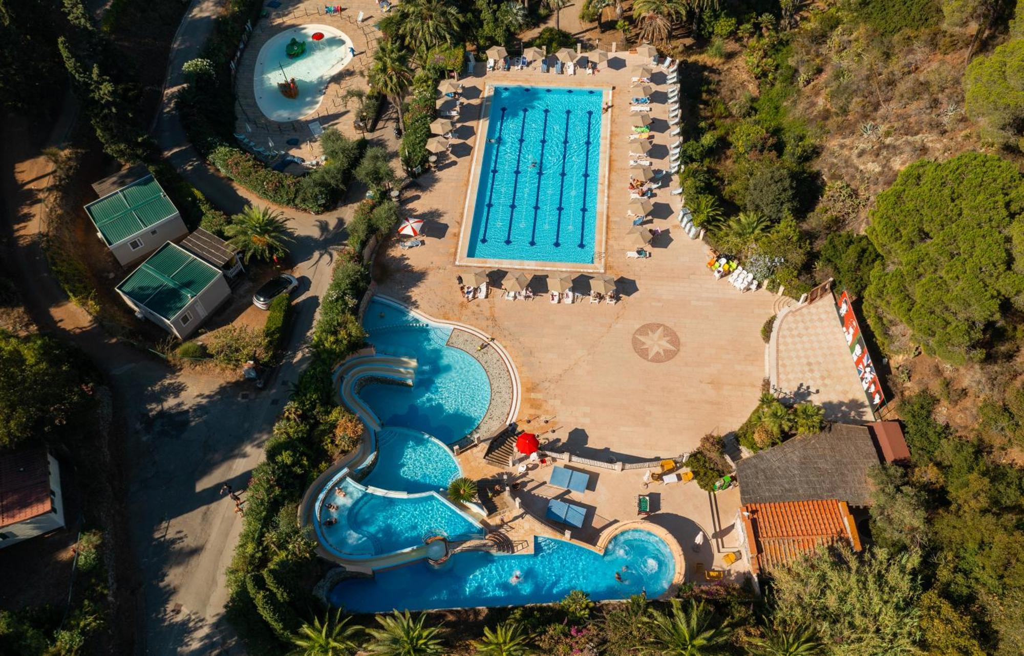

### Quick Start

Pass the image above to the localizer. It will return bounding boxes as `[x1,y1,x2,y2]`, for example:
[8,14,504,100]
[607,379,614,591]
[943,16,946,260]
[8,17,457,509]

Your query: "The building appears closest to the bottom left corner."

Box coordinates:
[0,449,70,539]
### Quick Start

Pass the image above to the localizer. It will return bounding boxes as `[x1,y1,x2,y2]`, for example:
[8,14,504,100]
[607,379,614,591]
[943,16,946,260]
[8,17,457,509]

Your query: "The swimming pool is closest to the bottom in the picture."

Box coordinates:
[332,520,686,627]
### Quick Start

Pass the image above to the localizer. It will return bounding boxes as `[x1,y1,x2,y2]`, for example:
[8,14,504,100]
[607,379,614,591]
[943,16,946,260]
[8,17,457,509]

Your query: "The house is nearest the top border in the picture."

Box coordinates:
[84,173,186,262]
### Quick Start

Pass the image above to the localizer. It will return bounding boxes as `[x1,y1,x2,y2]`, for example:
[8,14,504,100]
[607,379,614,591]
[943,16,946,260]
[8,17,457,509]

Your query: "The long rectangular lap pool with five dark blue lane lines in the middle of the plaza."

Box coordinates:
[455,82,610,272]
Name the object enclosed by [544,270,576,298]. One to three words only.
umbrella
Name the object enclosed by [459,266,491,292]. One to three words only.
umbrella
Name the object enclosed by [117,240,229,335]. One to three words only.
house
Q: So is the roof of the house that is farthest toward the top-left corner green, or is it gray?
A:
green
